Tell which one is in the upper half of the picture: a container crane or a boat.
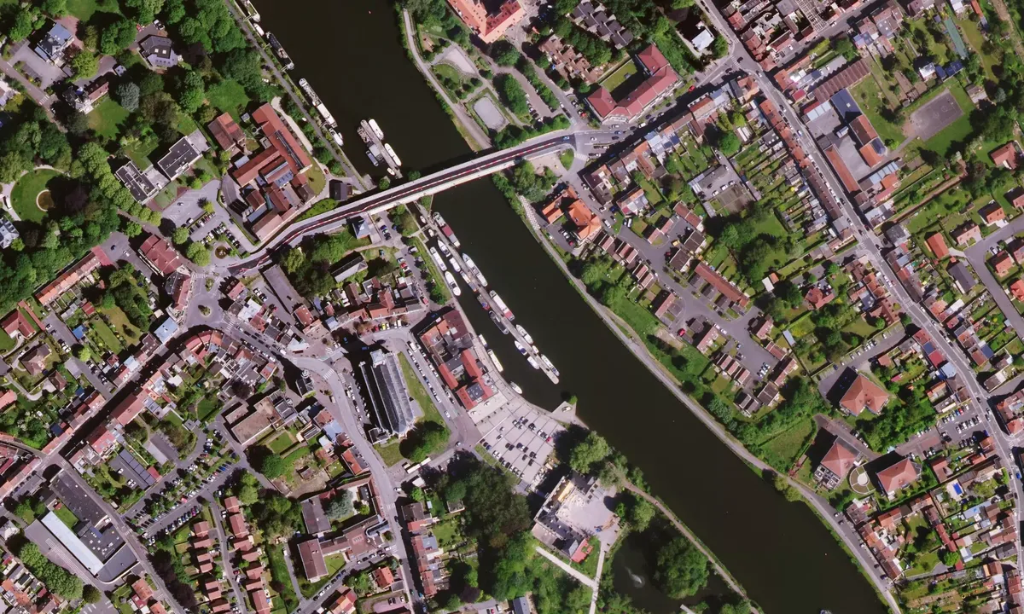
boat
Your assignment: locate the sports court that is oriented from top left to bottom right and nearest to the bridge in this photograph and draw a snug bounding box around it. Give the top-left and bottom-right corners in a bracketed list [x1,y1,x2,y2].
[474,96,506,130]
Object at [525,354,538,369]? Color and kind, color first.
white boat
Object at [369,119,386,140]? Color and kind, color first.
white boat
